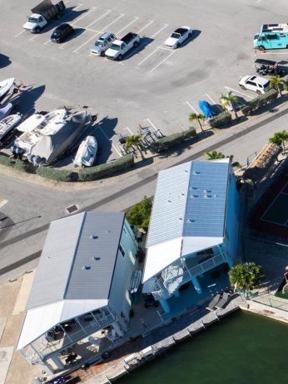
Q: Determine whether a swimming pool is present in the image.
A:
No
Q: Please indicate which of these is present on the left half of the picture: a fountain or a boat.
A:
boat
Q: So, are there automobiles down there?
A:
Yes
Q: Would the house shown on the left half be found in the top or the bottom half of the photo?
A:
bottom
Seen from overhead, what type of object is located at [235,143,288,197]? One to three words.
shed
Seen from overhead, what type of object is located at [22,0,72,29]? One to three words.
truck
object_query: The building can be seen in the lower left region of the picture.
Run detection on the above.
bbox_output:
[18,210,135,377]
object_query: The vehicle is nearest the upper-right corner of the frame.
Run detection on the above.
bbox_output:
[255,26,288,50]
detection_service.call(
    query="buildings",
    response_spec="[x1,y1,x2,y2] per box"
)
[142,159,235,319]
[235,143,288,197]
[18,210,135,377]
